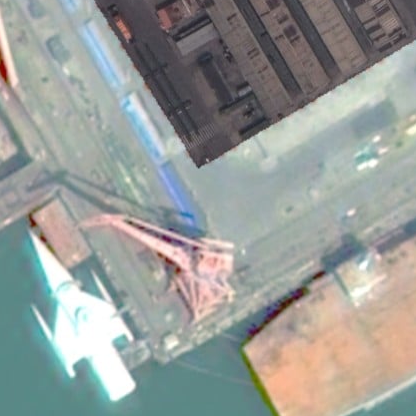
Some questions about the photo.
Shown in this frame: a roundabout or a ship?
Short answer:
ship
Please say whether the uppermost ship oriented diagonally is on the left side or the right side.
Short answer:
left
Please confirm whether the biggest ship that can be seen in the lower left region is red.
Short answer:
No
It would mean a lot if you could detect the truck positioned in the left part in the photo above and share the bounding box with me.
[110,9,133,40]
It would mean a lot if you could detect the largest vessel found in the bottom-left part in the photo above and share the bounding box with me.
[30,229,136,402]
